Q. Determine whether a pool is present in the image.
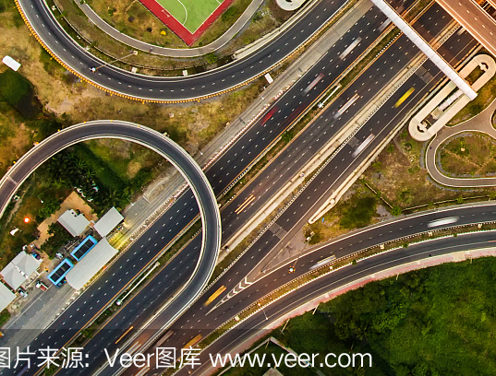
No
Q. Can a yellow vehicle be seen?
Yes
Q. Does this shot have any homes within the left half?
Yes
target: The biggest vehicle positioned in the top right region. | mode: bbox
[392,85,416,109]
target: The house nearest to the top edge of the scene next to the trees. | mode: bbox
[58,207,94,237]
